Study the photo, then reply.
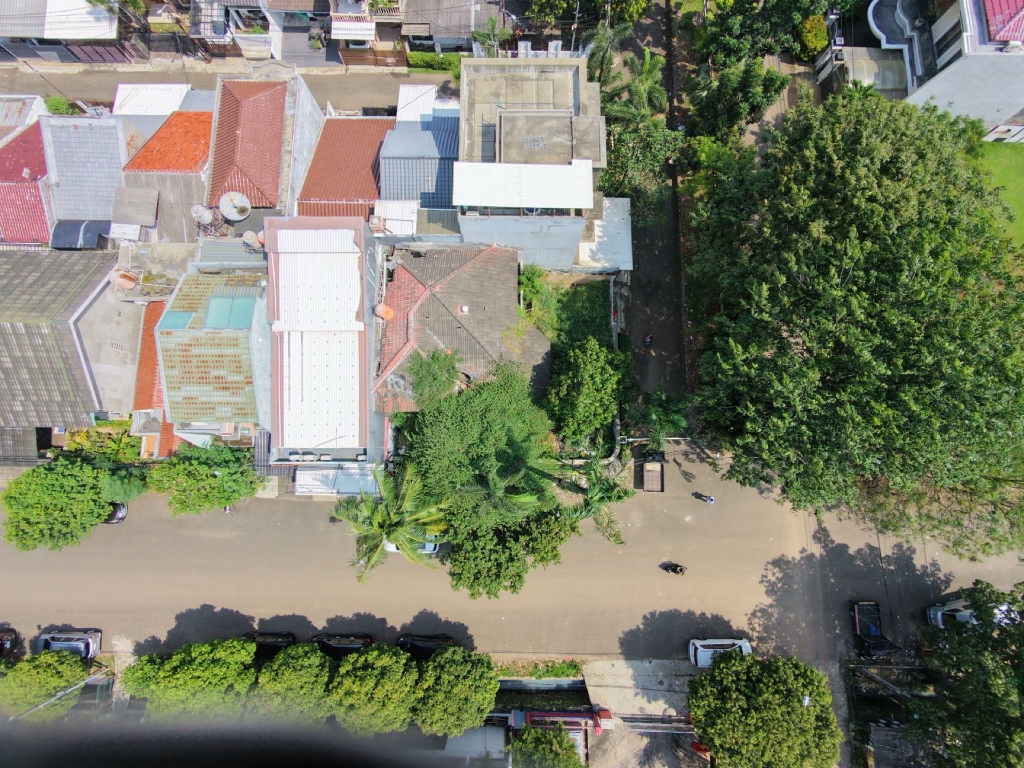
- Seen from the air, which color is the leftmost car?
black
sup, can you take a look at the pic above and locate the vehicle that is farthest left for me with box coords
[0,628,20,657]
